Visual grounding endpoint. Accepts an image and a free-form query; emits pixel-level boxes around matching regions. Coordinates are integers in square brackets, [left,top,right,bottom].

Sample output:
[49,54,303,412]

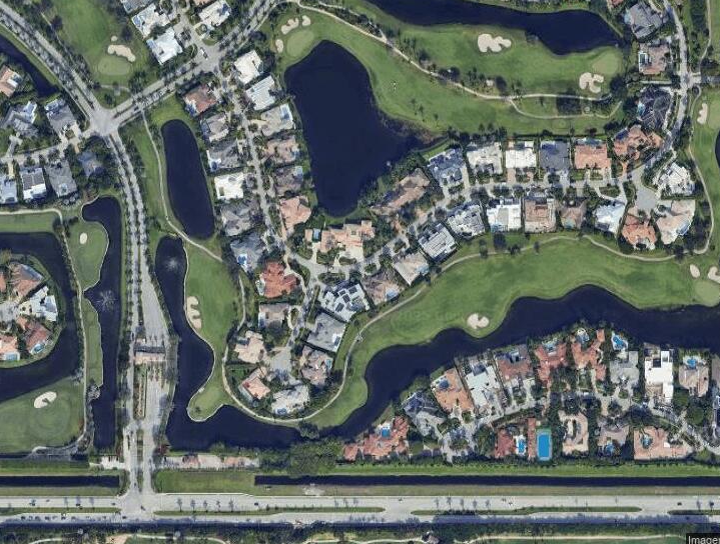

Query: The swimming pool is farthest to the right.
[684,353,698,370]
